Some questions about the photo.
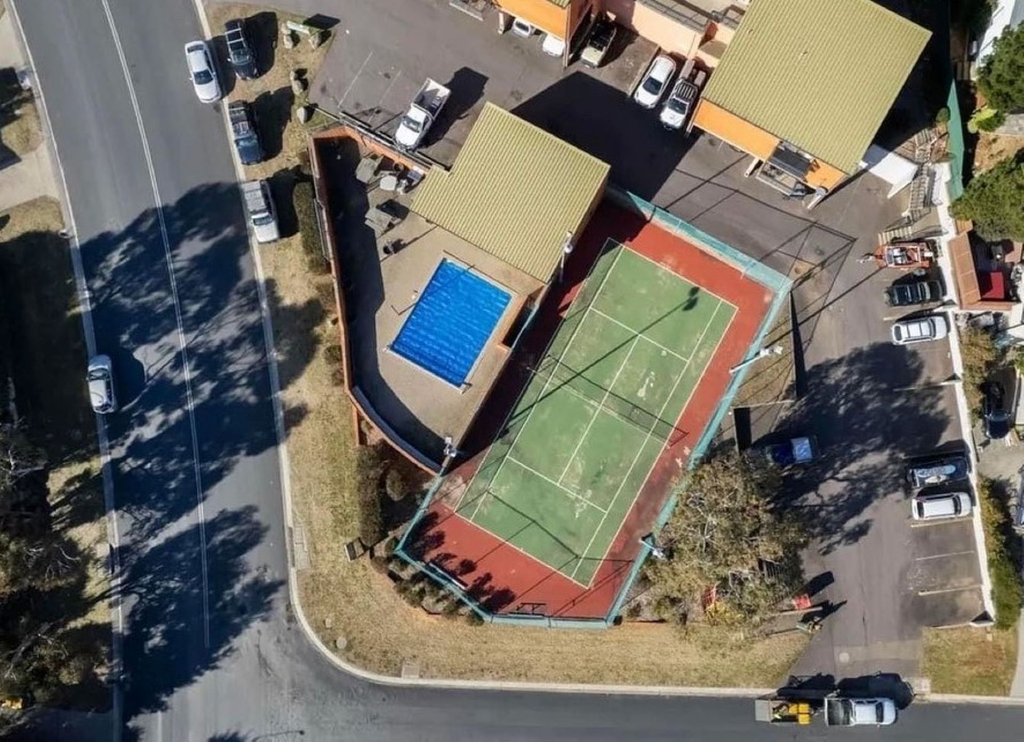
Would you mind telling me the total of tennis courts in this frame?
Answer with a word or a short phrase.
1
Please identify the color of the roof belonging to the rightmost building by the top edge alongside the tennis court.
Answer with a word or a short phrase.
yellow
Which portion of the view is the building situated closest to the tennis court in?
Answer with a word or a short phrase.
top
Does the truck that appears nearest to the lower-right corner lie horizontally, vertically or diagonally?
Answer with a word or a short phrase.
horizontally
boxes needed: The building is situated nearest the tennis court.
[410,103,612,288]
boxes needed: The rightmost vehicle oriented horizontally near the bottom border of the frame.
[825,697,898,732]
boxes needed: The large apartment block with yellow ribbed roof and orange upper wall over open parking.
[690,0,932,204]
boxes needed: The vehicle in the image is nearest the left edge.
[84,354,122,415]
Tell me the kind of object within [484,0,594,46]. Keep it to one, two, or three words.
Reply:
building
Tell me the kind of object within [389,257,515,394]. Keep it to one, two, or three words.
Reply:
swimming pool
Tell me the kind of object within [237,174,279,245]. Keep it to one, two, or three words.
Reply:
truck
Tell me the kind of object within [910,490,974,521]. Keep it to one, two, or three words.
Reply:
car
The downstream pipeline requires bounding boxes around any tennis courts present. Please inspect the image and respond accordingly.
[404,200,777,619]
